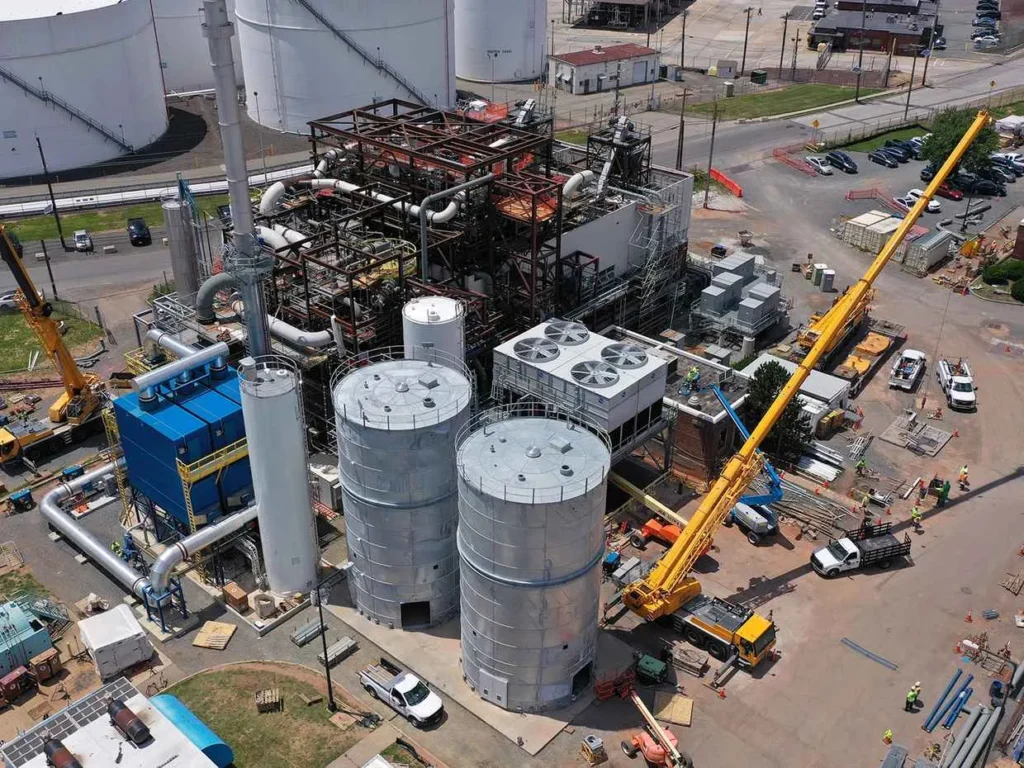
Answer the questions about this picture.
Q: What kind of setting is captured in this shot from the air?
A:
industrial area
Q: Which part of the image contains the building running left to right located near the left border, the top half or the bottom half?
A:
bottom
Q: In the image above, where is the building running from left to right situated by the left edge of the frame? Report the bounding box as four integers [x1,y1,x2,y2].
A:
[0,676,208,768]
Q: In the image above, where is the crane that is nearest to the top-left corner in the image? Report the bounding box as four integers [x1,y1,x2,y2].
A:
[0,206,136,477]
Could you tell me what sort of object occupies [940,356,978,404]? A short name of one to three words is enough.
truck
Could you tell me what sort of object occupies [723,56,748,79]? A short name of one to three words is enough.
shed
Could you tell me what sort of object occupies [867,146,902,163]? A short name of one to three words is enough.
car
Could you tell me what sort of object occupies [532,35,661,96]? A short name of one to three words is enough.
building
